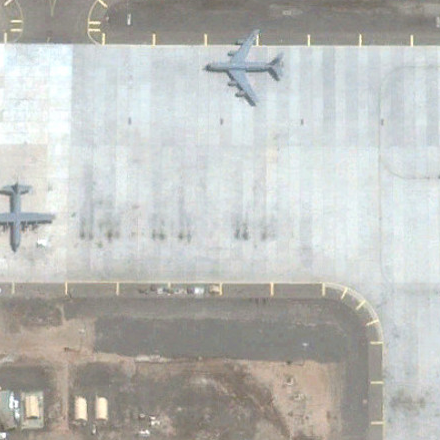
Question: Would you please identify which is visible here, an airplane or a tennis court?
airplane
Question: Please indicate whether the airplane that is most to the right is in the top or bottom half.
top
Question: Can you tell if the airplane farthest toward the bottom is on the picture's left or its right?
left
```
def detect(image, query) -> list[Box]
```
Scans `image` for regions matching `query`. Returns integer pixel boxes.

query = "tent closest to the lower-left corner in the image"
[26,395,39,422]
